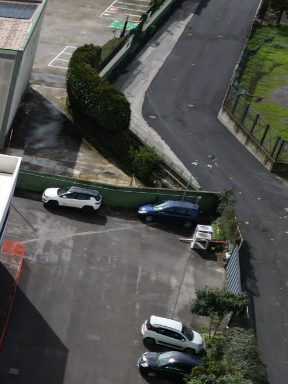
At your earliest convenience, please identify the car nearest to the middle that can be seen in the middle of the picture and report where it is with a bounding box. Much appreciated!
[140,200,204,229]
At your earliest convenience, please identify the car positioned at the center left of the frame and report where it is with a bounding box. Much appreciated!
[45,188,104,216]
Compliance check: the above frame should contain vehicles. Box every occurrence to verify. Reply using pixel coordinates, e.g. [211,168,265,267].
[45,188,104,216]
[140,200,204,229]
[140,350,213,384]
[140,313,204,355]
